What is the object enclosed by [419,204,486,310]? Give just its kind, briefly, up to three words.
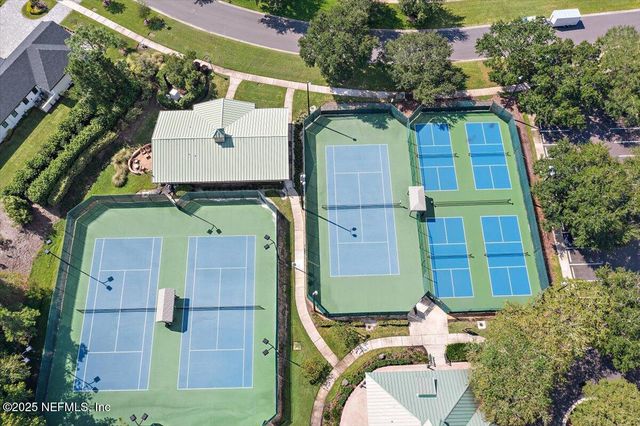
sports court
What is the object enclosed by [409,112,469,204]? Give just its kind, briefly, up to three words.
sports court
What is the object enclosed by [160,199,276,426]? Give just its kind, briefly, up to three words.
tennis court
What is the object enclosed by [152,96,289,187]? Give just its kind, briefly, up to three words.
building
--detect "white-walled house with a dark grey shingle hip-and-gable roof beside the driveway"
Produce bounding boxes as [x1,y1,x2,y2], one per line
[0,20,83,142]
